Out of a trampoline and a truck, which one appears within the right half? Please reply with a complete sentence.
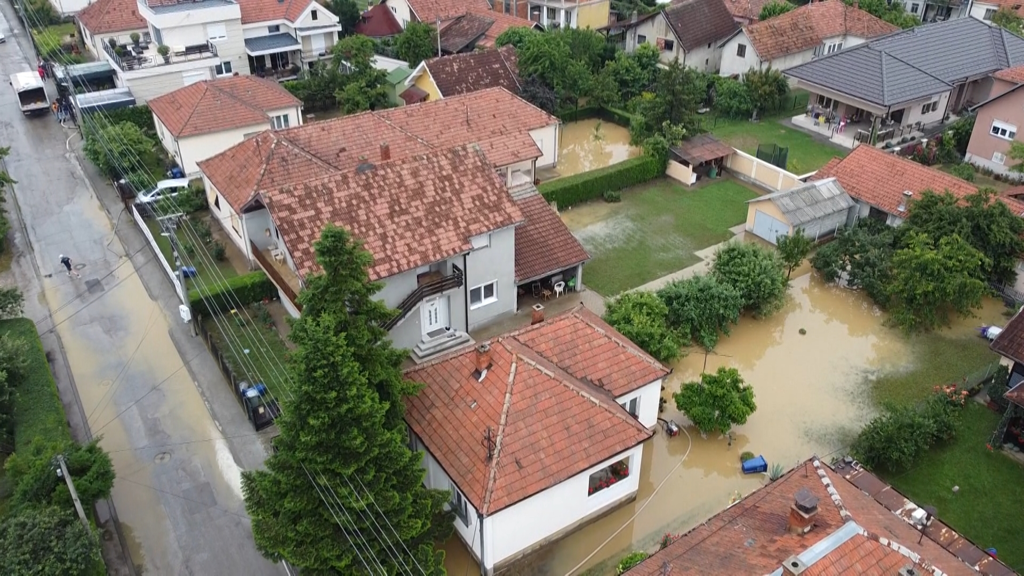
Looking within the right half, you will find a trampoline.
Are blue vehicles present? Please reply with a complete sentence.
No, the picture doesn't show any blue vehicle.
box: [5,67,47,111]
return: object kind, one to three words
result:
truck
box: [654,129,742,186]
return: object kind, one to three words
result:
shed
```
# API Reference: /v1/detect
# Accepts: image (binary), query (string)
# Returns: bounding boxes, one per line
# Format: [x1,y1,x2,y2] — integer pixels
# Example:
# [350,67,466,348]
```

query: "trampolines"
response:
[761,141,793,171]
